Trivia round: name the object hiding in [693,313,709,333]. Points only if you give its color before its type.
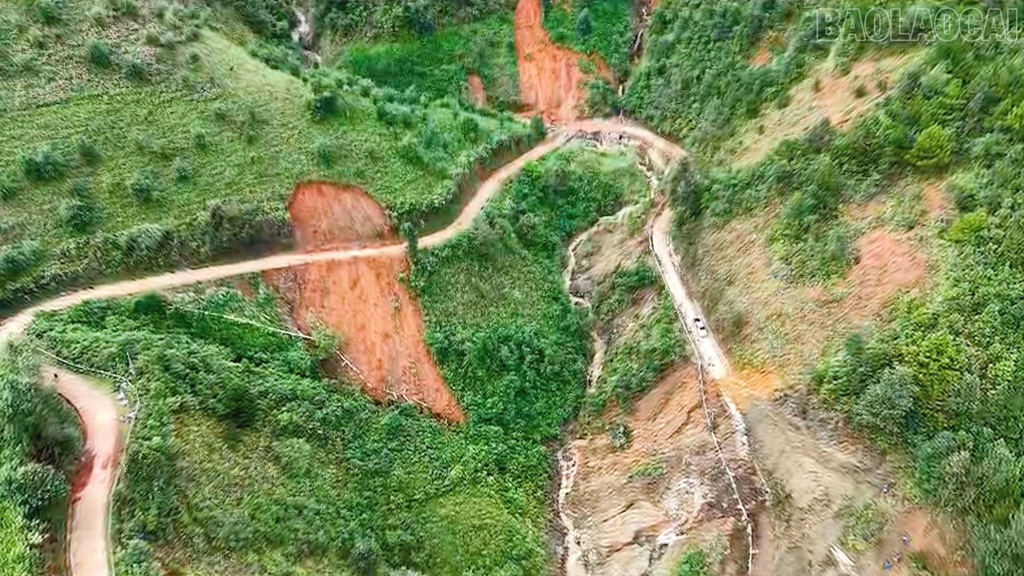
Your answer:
white vehicle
